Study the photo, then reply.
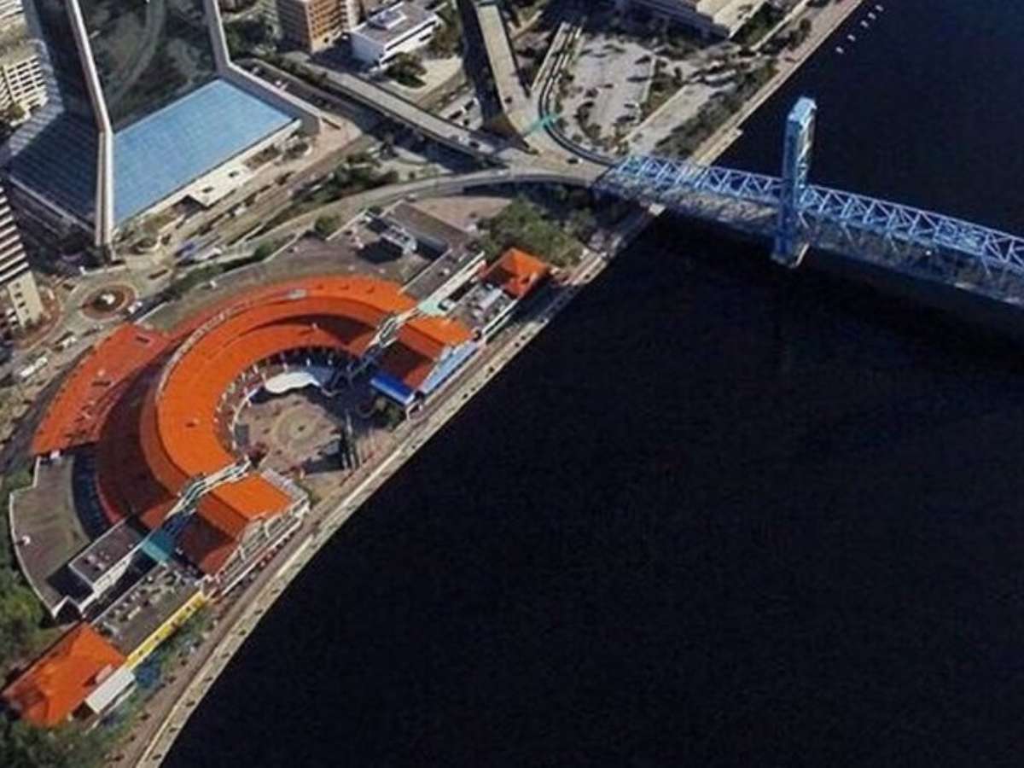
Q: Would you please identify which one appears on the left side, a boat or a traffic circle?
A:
traffic circle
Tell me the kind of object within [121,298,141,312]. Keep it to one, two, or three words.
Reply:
vehicle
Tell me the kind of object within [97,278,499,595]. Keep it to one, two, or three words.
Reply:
building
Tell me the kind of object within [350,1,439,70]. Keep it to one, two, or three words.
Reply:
building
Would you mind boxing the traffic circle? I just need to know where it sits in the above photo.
[50,264,166,338]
